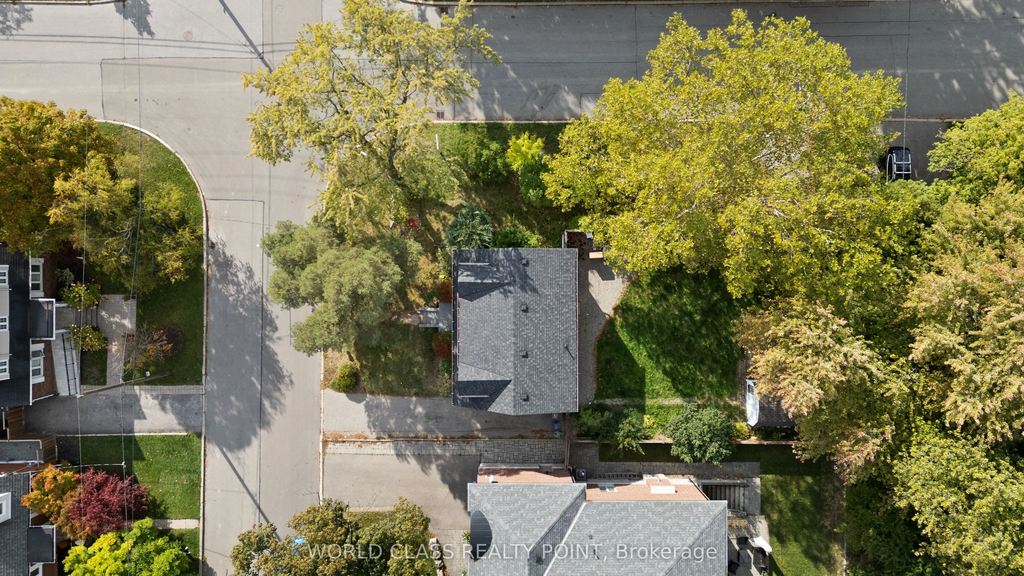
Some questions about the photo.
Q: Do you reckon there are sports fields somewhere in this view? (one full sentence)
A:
No, no sports field is visible in the scene.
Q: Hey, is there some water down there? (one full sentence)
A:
No, no water is visible.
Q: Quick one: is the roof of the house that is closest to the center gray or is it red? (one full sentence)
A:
The color of the roof of the house that is closest to the center is gray.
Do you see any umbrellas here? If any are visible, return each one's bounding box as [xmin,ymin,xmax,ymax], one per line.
[752,535,771,555]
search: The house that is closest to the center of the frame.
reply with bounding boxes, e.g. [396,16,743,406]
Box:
[420,247,580,415]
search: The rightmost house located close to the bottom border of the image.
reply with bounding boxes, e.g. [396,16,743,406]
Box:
[466,462,729,576]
